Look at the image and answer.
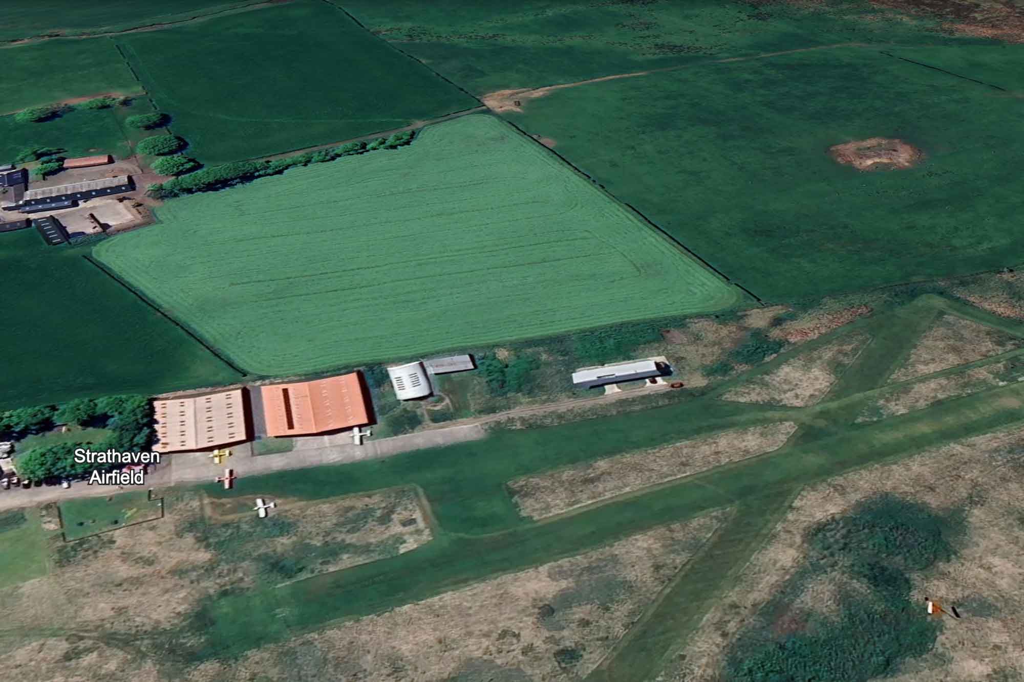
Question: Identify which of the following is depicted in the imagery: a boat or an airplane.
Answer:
airplane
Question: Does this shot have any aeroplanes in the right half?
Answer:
No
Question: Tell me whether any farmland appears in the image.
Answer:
Yes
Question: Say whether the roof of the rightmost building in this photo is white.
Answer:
Yes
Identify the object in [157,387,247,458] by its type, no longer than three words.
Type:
hangar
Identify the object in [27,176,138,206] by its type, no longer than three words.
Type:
barn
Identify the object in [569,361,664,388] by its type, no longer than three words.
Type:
building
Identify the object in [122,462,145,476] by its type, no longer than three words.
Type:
vehicle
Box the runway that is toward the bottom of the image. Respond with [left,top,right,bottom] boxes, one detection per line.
[180,379,1024,659]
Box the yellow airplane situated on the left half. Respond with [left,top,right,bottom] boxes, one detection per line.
[210,446,230,462]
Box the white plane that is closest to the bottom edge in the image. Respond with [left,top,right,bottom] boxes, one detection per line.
[255,497,275,516]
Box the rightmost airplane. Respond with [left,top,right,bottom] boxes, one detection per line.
[351,426,370,442]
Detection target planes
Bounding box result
[351,426,370,442]
[210,446,230,462]
[216,467,237,489]
[255,497,275,516]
